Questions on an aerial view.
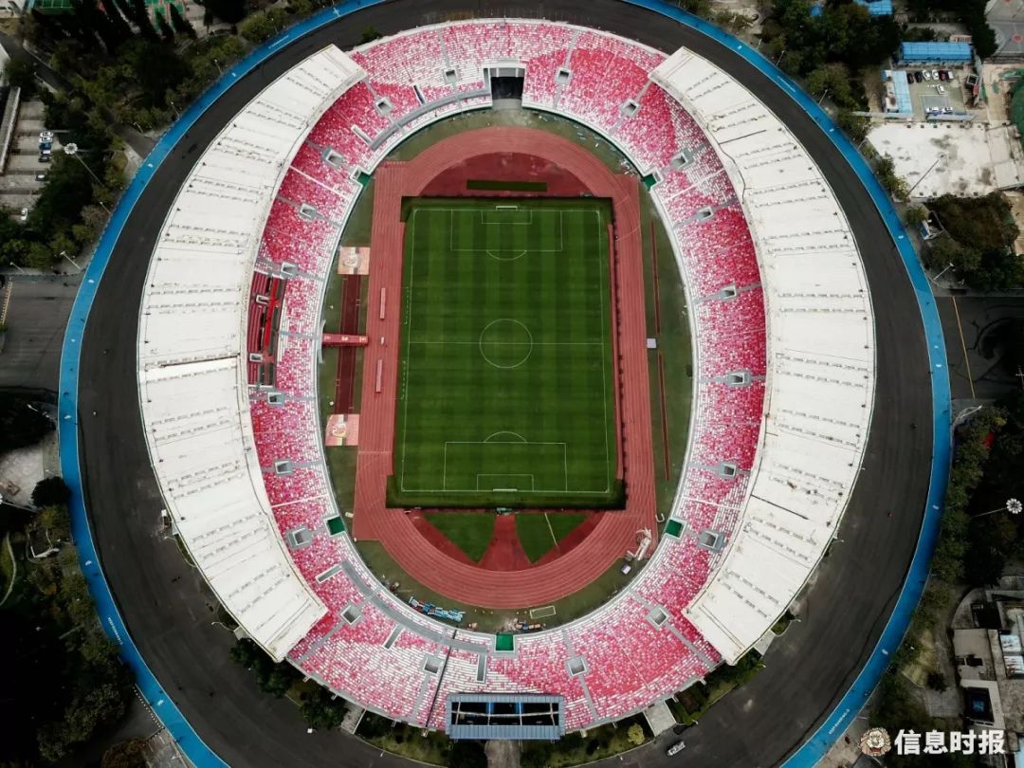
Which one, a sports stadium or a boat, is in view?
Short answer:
sports stadium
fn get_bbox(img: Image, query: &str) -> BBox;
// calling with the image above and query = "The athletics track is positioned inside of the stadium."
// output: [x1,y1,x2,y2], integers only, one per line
[354,126,659,607]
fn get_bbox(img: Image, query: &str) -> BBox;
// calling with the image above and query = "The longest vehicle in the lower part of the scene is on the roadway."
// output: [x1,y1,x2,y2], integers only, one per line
[668,741,684,755]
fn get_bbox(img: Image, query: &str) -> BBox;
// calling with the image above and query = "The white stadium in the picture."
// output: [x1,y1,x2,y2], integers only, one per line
[135,19,875,739]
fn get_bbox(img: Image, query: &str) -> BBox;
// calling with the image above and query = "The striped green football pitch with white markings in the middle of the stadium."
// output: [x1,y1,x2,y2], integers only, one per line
[386,198,624,506]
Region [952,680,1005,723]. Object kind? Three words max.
building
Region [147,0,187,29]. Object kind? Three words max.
sports court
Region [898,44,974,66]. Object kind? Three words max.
building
